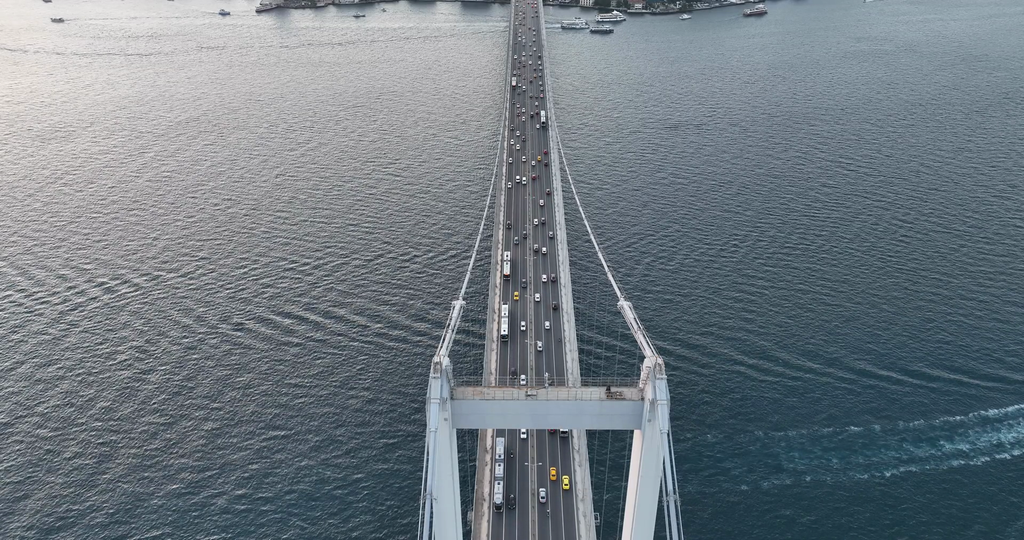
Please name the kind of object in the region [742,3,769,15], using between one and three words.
ship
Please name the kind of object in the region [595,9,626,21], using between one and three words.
ship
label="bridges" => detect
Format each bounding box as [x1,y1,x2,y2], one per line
[413,0,689,540]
